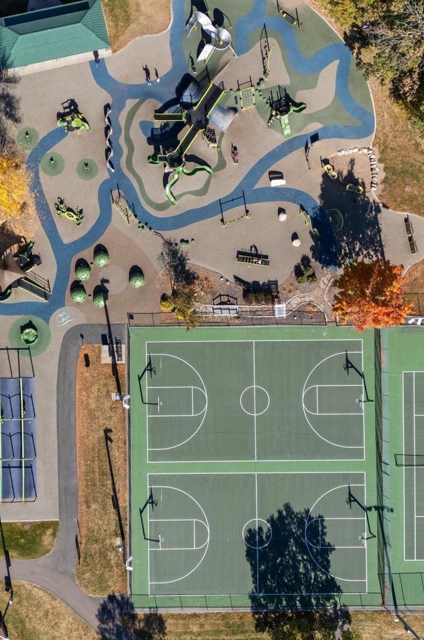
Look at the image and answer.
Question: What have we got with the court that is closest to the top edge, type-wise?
basketball court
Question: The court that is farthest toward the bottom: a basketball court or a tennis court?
basketball court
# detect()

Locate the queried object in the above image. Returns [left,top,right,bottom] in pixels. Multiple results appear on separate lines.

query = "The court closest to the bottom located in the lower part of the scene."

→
[148,472,368,595]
